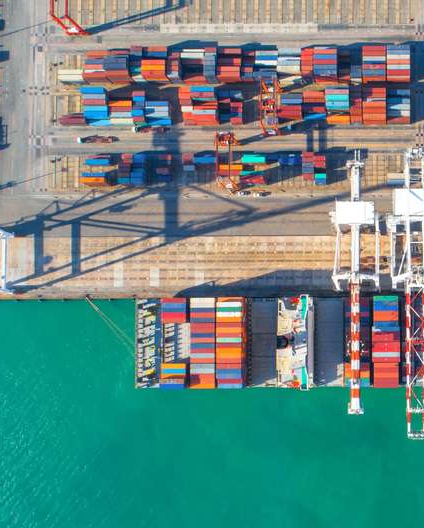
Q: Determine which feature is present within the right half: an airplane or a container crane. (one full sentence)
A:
You can see a container crane within the right half.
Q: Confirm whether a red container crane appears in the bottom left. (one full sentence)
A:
No, looking in the bottom left, there is no red container crane.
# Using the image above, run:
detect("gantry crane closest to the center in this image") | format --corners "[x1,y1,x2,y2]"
[214,130,245,192]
